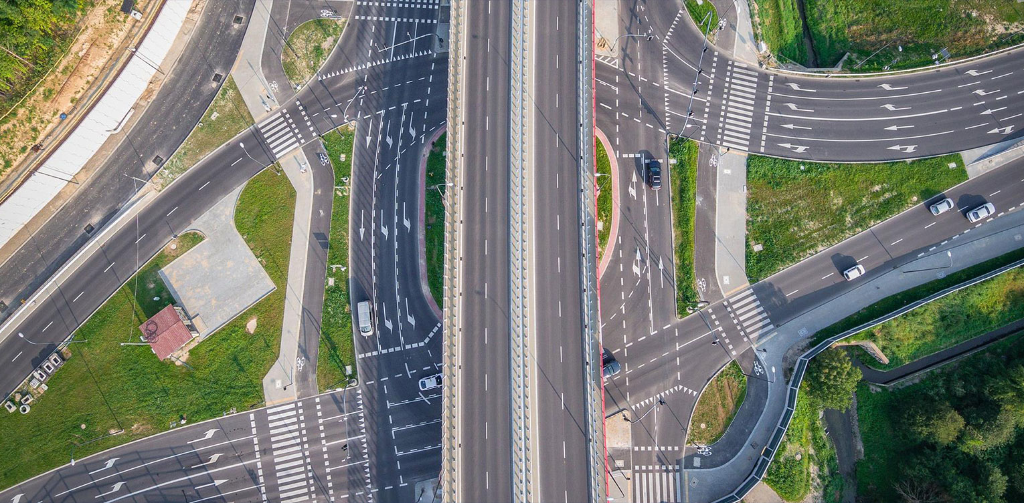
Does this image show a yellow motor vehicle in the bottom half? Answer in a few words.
No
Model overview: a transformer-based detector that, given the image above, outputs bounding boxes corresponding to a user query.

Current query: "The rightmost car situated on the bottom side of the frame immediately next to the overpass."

[603,360,621,378]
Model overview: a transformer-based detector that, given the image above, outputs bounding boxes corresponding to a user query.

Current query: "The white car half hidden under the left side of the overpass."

[418,373,443,390]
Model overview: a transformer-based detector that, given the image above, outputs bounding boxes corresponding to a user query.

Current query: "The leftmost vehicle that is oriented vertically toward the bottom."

[356,301,375,336]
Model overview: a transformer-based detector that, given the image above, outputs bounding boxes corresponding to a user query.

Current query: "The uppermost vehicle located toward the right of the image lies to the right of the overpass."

[648,161,663,190]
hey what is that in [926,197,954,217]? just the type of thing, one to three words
car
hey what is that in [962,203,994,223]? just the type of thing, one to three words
car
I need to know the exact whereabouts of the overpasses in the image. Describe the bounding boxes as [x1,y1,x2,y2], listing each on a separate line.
[441,0,609,503]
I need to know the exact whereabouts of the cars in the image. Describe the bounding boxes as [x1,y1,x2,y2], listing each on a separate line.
[926,197,954,217]
[962,203,994,223]
[603,360,621,378]
[840,264,865,282]
[648,161,663,190]
[418,373,443,390]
